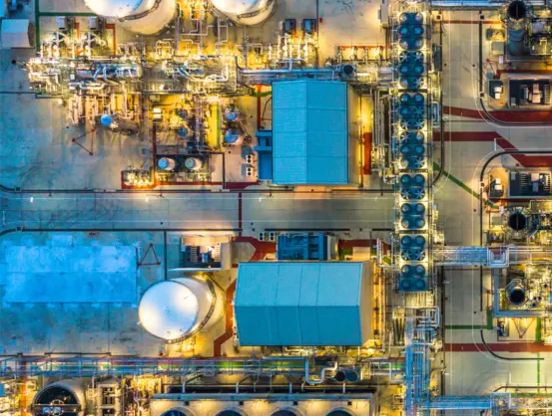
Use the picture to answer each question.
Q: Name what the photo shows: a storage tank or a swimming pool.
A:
storage tank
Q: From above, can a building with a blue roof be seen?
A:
Yes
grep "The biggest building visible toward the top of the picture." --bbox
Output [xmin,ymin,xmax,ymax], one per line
[270,76,357,186]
